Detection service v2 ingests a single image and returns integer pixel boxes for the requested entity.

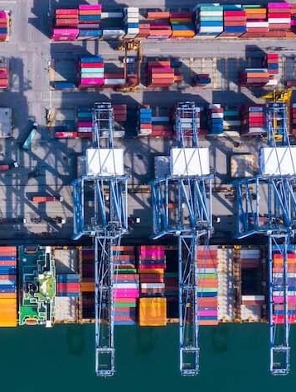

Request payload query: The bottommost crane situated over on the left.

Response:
[61,100,128,375]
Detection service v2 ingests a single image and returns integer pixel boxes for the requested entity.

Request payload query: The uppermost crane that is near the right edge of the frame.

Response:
[254,84,290,141]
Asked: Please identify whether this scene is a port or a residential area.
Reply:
port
